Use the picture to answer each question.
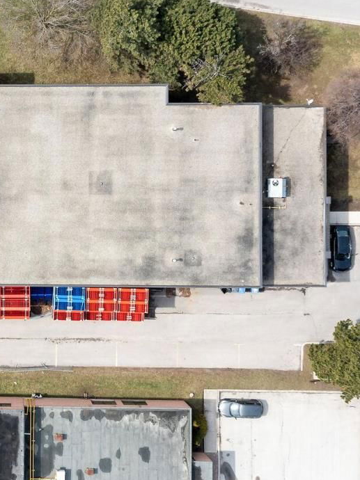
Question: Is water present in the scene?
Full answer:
No, there is no water in the image.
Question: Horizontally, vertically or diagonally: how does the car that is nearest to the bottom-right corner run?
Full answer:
The car that is nearest to the bottom-right corner is laid out horizontally.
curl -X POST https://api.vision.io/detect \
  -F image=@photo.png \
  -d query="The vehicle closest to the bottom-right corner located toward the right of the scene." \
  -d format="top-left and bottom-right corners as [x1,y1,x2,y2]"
[218,397,263,420]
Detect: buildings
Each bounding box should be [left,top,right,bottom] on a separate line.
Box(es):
[24,398,191,480]
[0,85,262,286]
